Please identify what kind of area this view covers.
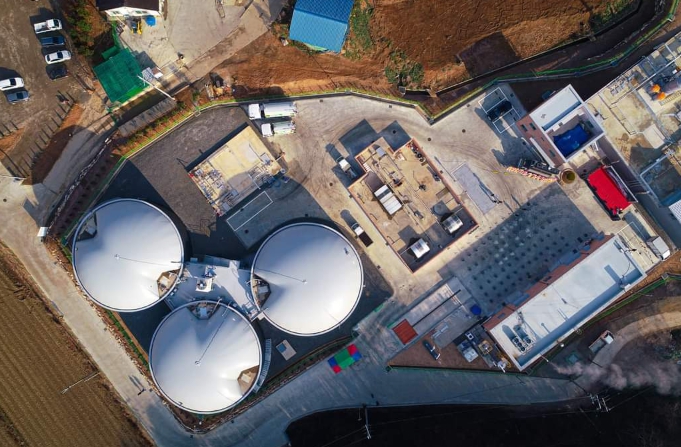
industrial area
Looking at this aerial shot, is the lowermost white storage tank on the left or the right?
left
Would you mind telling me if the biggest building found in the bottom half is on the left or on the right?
right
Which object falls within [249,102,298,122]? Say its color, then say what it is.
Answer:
white vehicle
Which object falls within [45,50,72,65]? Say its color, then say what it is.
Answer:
white car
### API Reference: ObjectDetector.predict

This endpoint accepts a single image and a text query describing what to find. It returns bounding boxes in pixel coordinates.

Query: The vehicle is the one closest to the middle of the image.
[349,222,376,249]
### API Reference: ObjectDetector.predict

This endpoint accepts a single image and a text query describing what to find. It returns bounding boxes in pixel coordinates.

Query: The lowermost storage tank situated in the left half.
[150,298,273,413]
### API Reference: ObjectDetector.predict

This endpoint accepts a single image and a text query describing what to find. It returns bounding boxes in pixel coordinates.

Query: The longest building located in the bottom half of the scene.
[479,226,646,371]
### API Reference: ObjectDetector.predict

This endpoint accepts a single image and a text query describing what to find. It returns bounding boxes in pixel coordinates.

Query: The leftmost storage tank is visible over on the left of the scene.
[72,198,197,310]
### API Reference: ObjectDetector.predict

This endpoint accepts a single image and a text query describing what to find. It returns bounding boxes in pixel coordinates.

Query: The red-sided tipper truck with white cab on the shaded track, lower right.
[587,331,616,356]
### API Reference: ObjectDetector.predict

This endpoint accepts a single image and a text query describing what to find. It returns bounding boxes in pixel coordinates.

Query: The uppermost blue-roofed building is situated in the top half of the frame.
[289,0,358,53]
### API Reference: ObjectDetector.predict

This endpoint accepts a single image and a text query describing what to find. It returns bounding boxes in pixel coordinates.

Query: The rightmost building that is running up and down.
[582,27,681,241]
